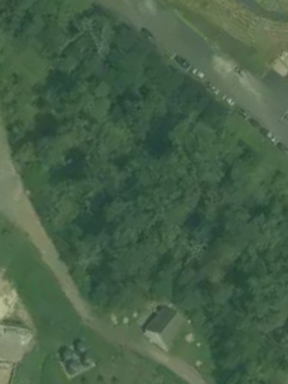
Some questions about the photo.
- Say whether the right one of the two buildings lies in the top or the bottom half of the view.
bottom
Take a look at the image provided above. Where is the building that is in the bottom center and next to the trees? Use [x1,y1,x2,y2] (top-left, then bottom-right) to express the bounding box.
[144,305,186,350]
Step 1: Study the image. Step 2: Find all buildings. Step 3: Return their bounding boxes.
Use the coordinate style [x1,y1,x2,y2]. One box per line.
[144,305,186,350]
[0,326,33,361]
